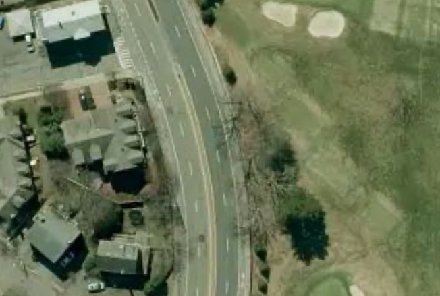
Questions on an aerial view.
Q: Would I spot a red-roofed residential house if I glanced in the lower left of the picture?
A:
No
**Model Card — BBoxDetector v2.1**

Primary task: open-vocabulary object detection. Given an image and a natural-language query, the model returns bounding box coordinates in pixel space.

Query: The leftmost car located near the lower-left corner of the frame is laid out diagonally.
[61,251,76,267]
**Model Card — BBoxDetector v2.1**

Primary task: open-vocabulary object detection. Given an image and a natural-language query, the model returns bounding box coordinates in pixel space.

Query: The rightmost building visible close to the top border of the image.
[40,0,107,46]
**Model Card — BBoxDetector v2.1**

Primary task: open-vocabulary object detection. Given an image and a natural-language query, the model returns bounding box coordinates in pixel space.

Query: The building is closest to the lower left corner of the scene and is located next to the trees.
[26,206,81,262]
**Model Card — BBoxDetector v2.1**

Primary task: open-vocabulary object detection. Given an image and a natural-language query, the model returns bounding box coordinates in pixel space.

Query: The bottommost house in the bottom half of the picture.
[97,239,151,276]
